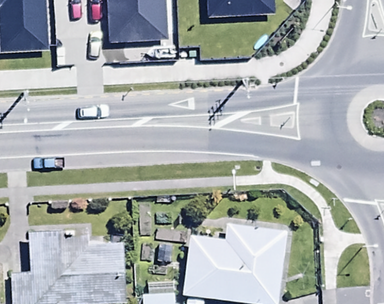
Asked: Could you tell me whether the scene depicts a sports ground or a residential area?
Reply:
residential area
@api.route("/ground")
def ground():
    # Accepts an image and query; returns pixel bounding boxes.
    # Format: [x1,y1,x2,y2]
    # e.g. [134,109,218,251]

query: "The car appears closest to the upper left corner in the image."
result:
[70,0,82,20]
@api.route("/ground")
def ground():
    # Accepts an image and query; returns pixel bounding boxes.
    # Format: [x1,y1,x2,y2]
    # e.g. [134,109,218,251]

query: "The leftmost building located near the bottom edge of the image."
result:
[11,231,126,304]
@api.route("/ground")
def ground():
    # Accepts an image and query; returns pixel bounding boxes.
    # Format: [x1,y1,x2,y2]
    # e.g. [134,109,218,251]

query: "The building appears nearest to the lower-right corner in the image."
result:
[184,224,288,304]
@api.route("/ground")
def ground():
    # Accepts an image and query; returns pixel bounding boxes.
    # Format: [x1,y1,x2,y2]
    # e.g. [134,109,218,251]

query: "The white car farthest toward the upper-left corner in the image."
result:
[89,31,102,59]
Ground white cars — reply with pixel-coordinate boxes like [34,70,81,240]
[89,31,102,59]
[76,104,110,118]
